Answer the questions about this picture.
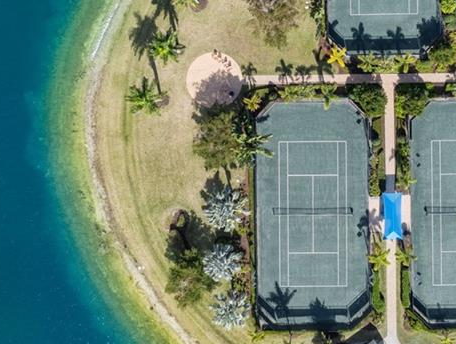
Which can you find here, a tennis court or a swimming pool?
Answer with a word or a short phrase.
tennis court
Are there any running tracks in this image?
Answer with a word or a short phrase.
No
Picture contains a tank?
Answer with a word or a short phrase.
No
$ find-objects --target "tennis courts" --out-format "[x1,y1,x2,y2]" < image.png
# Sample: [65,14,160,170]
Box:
[410,100,456,320]
[327,0,441,52]
[256,100,370,321]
